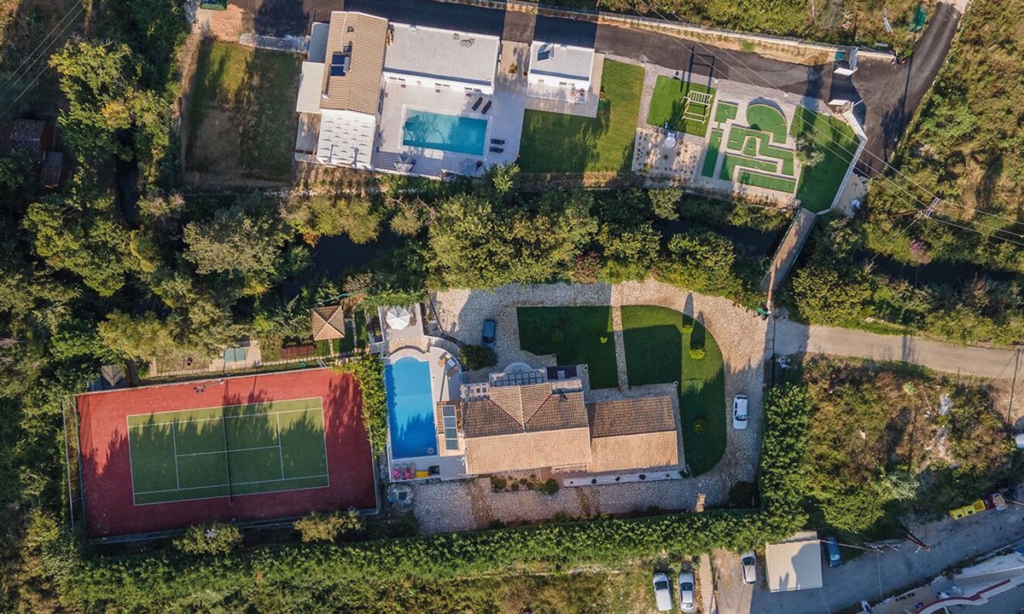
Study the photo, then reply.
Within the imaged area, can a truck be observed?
Yes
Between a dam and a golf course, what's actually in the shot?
golf course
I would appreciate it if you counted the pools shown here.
2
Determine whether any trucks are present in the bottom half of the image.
Yes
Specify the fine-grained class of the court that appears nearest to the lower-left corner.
tennis court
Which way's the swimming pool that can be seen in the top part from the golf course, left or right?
on the left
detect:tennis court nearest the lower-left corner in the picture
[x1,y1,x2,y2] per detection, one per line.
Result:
[77,369,376,539]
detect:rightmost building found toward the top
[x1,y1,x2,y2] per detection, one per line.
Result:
[526,41,595,105]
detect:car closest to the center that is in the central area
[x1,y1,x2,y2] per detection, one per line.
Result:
[480,319,496,348]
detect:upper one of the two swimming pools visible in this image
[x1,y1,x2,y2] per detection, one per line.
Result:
[372,66,527,178]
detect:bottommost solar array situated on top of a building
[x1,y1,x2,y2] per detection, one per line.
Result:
[442,404,460,451]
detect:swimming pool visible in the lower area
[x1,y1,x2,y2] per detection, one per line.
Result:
[382,338,465,483]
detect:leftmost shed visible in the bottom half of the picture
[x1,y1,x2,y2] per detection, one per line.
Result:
[101,365,135,388]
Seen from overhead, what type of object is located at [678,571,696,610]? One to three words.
car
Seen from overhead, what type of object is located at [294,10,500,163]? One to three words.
house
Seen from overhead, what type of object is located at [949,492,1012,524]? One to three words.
truck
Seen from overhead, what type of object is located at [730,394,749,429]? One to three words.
car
